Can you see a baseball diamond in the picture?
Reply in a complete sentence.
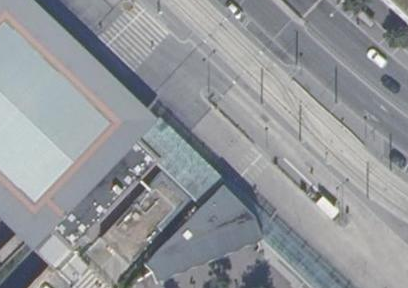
No, there's no baseball diamond here.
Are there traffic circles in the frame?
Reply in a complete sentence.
No, the photo shows no traffic circle.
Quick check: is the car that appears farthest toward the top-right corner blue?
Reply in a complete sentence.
No, the car that appears farthest toward the top-right corner is white.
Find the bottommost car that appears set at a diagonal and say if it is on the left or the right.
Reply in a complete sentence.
The bottommost car that appears set at a diagonal sits on the right side.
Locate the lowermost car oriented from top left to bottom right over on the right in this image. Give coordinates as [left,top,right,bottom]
[387,149,408,169]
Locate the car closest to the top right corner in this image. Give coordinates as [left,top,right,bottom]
[366,48,388,69]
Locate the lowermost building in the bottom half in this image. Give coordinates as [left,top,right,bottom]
[60,254,88,282]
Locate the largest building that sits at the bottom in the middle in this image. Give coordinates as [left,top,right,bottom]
[146,185,262,283]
